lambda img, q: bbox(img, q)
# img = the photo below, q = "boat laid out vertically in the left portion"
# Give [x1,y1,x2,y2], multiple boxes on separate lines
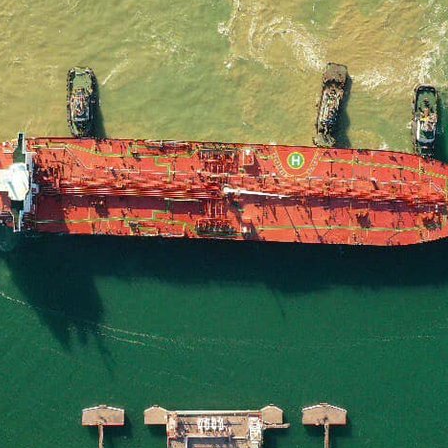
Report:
[66,66,96,138]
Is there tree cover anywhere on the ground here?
No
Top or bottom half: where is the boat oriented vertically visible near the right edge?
top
